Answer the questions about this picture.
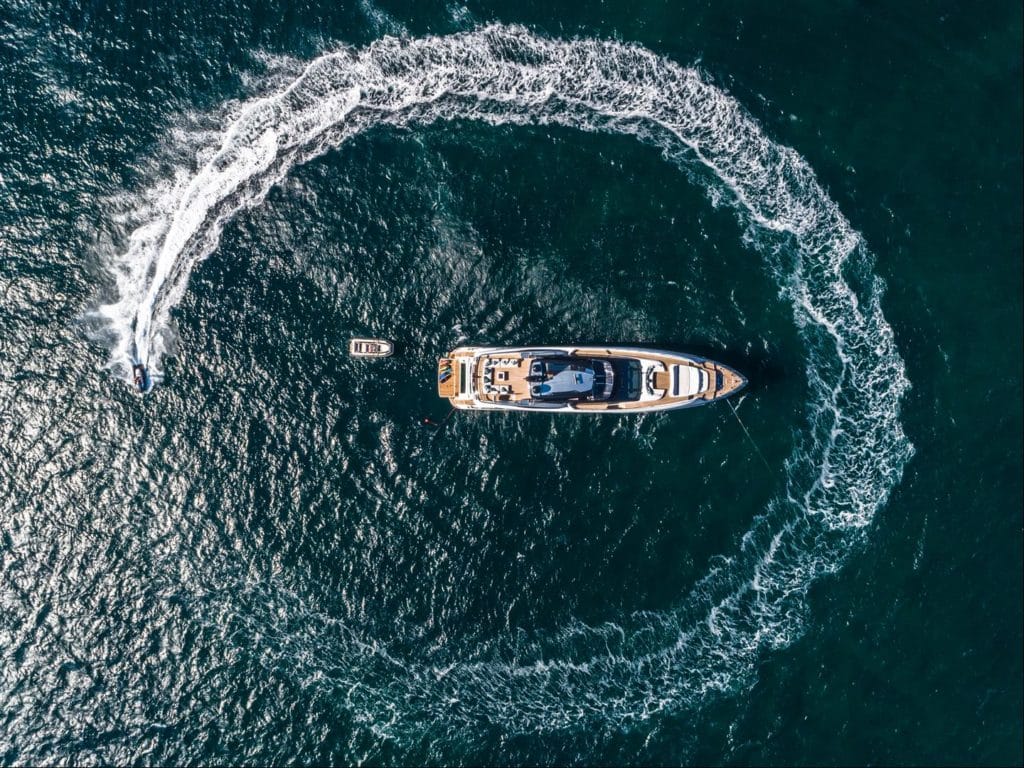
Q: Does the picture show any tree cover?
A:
No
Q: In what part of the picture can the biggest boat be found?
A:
center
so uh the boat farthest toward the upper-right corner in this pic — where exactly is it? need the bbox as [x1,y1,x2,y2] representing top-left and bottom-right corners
[438,347,748,412]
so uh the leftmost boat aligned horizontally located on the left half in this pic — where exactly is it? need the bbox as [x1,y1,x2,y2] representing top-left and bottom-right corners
[350,339,393,357]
